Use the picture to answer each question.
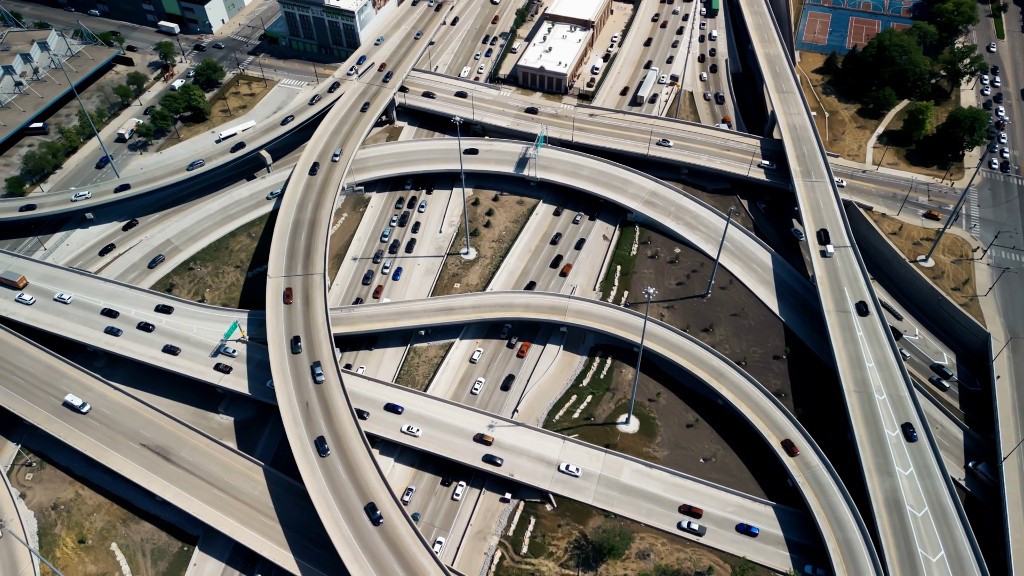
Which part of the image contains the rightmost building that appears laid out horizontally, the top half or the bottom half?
top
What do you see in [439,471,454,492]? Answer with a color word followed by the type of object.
black car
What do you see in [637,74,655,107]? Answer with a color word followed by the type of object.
white vehicle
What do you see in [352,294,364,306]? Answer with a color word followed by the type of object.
black vehicle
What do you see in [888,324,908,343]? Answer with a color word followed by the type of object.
black vehicle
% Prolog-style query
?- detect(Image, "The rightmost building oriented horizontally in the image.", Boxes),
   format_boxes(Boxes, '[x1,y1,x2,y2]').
[272,0,404,53]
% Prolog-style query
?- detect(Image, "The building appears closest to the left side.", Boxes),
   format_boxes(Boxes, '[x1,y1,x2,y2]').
[0,28,124,150]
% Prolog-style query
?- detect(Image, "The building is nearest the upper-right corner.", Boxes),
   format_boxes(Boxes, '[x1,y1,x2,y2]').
[516,0,622,94]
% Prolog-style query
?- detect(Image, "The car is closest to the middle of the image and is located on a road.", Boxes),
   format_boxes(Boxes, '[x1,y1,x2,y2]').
[524,278,536,291]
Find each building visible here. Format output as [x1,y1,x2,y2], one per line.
[11,0,251,34]
[0,28,124,150]
[516,0,622,94]
[272,0,404,53]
